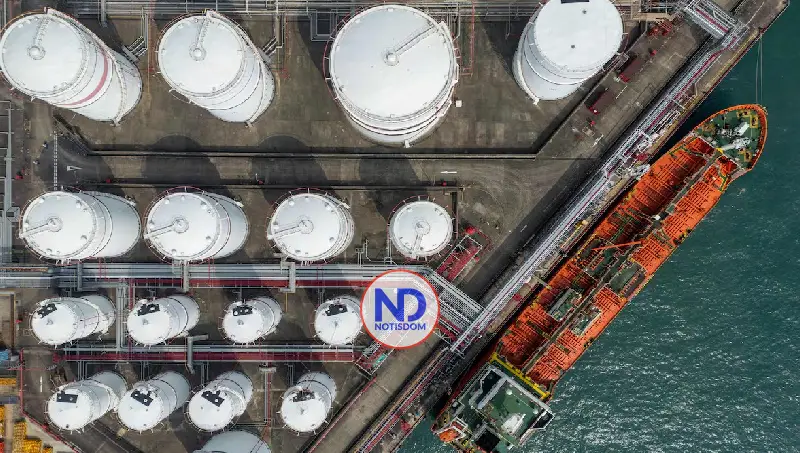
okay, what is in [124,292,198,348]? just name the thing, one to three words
storage tank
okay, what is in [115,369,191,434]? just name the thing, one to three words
storage tank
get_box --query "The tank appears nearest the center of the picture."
[385,197,457,262]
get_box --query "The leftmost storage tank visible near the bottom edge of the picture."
[45,369,129,435]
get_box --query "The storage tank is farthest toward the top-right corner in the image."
[509,0,627,102]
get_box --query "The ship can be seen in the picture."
[424,97,771,453]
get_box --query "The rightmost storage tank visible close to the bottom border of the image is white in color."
[277,370,337,437]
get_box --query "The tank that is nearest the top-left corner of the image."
[0,8,147,123]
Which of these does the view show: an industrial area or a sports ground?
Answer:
industrial area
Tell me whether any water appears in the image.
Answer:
Yes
